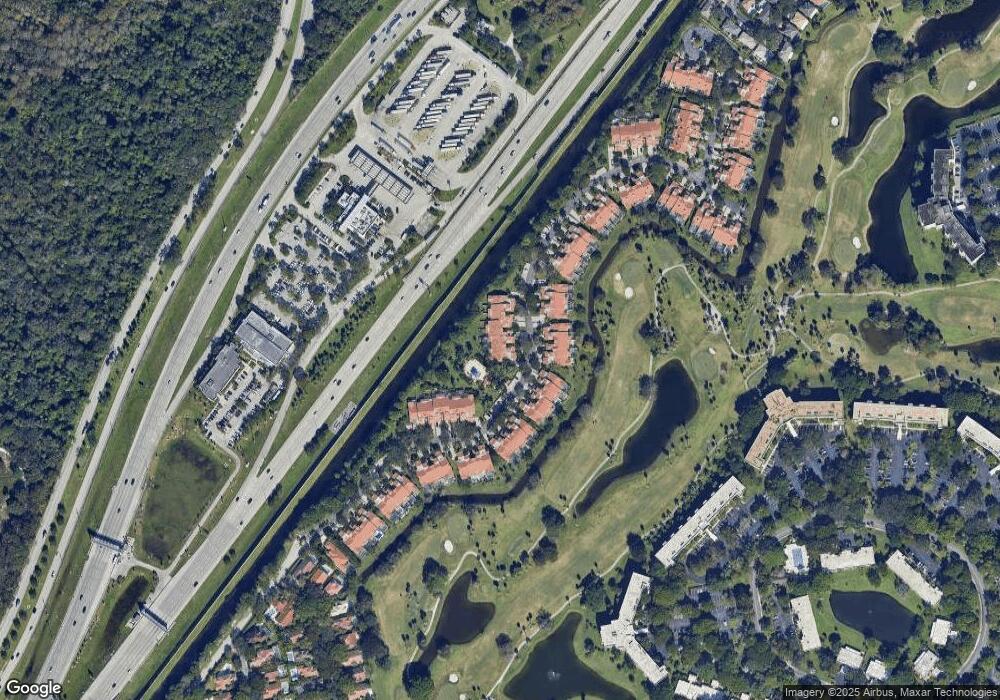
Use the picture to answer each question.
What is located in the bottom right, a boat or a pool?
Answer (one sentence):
Visible in the bottom right is a pool.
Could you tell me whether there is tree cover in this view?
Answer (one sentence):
Yes, the picture does contain tree cover.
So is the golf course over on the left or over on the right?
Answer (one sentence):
It is on the right.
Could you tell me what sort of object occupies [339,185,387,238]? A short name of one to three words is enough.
building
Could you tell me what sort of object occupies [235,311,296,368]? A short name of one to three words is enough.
building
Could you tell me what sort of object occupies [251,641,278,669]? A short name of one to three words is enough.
house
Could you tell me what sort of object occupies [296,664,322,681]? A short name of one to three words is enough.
house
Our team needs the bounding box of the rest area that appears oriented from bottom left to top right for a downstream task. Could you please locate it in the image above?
[203,0,534,446]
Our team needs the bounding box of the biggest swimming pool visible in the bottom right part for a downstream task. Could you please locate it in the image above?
[785,545,809,572]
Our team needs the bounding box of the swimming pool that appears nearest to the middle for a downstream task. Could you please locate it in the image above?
[464,361,483,380]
